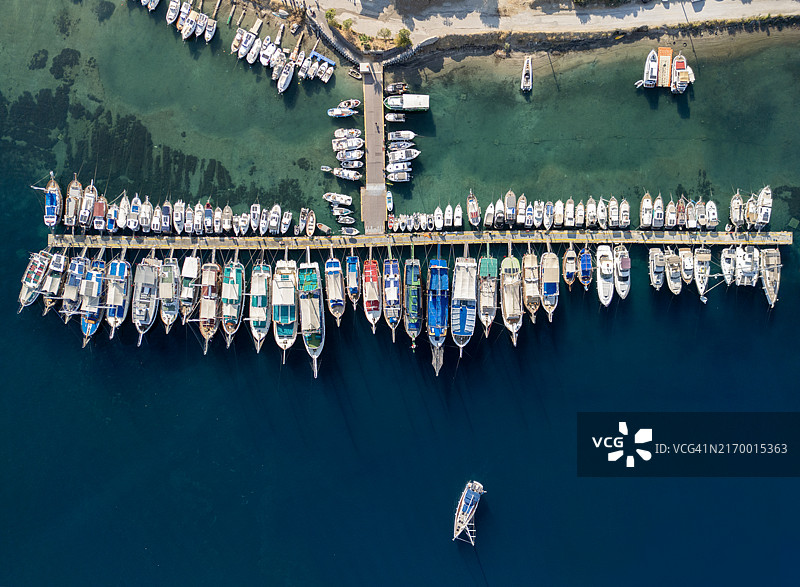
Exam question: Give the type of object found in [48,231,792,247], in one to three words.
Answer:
pier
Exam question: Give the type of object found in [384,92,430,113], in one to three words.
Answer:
ship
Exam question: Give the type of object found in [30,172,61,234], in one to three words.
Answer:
boat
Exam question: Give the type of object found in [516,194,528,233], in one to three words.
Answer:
boat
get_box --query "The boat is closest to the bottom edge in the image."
[452,481,487,540]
